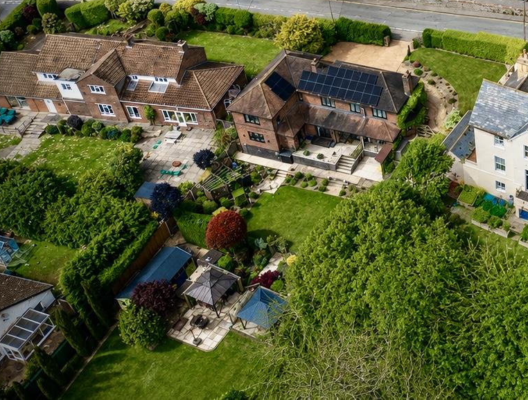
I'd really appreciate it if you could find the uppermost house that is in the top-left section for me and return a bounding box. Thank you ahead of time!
[0,27,245,130]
